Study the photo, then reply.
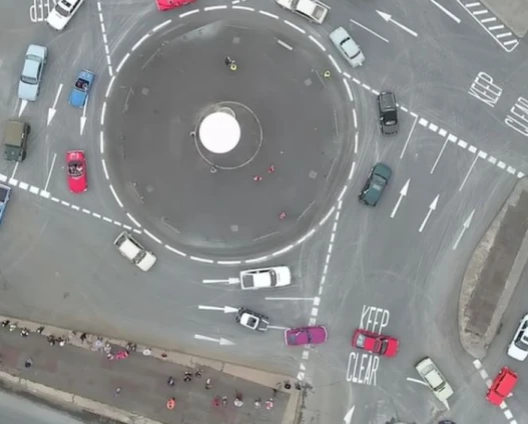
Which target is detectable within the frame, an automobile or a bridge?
automobile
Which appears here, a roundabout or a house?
roundabout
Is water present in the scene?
No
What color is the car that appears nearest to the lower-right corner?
red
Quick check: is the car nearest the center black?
No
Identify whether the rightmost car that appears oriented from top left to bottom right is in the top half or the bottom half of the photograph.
bottom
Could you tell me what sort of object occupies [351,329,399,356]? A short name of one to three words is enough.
car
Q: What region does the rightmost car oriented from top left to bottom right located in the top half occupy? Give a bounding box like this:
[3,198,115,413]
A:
[329,27,365,68]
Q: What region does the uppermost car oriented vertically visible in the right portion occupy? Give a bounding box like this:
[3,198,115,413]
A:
[376,95,399,139]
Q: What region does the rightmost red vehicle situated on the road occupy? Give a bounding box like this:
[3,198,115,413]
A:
[485,367,515,405]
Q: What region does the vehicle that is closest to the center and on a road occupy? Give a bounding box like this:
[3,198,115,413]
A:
[240,265,292,288]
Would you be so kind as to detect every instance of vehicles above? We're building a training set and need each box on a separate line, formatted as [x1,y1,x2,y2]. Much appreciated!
[360,162,390,206]
[276,0,328,25]
[19,44,48,102]
[506,312,528,361]
[156,0,195,10]
[235,306,270,332]
[115,231,157,270]
[49,0,85,31]
[485,367,515,405]
[66,150,88,194]
[415,356,453,400]
[329,27,365,68]
[285,323,328,346]
[376,95,399,139]
[0,182,13,226]
[240,265,292,288]
[70,68,96,107]
[351,329,399,356]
